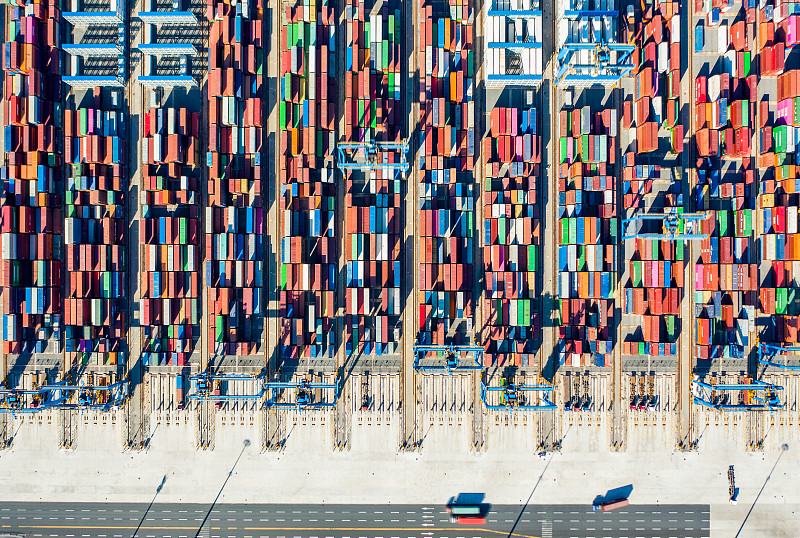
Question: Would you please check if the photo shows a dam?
No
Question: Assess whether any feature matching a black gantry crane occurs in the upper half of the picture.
No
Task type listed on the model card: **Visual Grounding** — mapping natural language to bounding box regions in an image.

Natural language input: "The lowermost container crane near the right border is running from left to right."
[690,370,783,416]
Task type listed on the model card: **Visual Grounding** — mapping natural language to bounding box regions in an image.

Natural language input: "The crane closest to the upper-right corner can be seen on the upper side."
[551,37,631,88]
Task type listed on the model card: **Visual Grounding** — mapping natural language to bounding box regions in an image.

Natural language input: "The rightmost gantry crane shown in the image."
[755,334,800,371]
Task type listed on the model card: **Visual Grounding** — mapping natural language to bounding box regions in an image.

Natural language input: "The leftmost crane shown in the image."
[0,370,66,416]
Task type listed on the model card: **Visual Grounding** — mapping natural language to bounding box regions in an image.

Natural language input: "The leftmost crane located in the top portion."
[338,137,410,182]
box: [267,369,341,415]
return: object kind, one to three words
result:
container crane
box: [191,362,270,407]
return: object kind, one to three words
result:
container crane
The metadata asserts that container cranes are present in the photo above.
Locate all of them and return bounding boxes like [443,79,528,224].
[191,362,270,407]
[338,137,410,182]
[480,371,558,417]
[755,334,800,371]
[43,369,131,414]
[267,369,341,415]
[413,333,487,376]
[616,208,703,248]
[0,370,66,416]
[690,370,783,416]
